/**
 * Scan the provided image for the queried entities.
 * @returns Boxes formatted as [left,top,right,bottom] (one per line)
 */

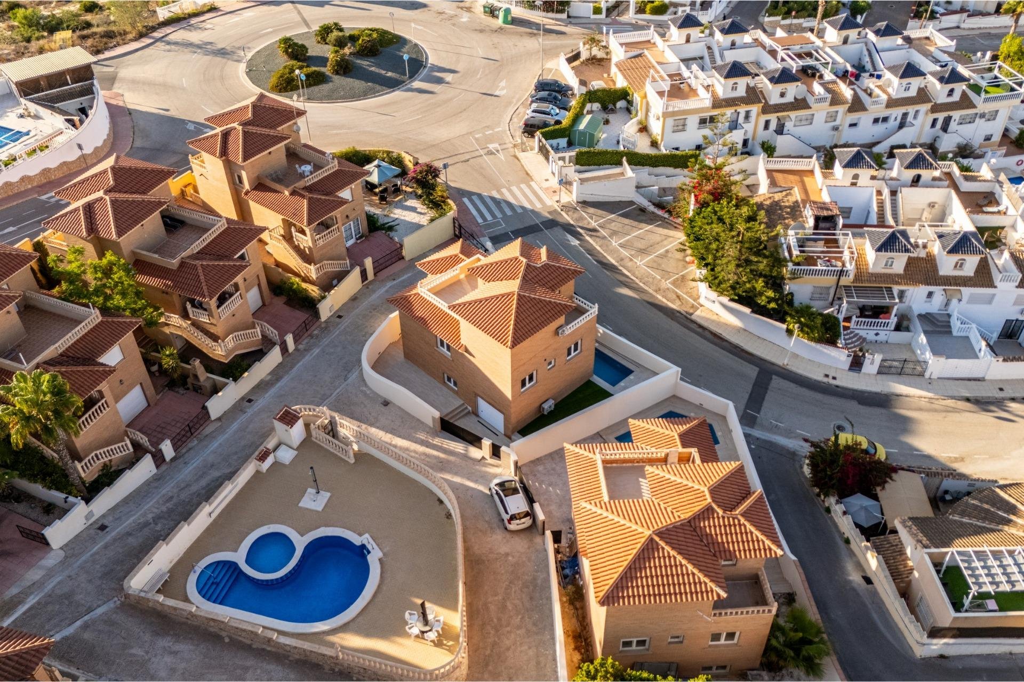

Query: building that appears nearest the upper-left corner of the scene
[0,46,113,194]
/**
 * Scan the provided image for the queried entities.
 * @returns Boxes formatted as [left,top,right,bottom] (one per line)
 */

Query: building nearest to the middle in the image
[384,235,598,435]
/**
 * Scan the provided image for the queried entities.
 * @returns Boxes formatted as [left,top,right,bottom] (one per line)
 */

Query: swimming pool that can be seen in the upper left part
[0,125,28,154]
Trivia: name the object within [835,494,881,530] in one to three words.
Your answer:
umbrella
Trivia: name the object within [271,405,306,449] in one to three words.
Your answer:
building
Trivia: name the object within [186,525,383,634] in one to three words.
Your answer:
swimming pool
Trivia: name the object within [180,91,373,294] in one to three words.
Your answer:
house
